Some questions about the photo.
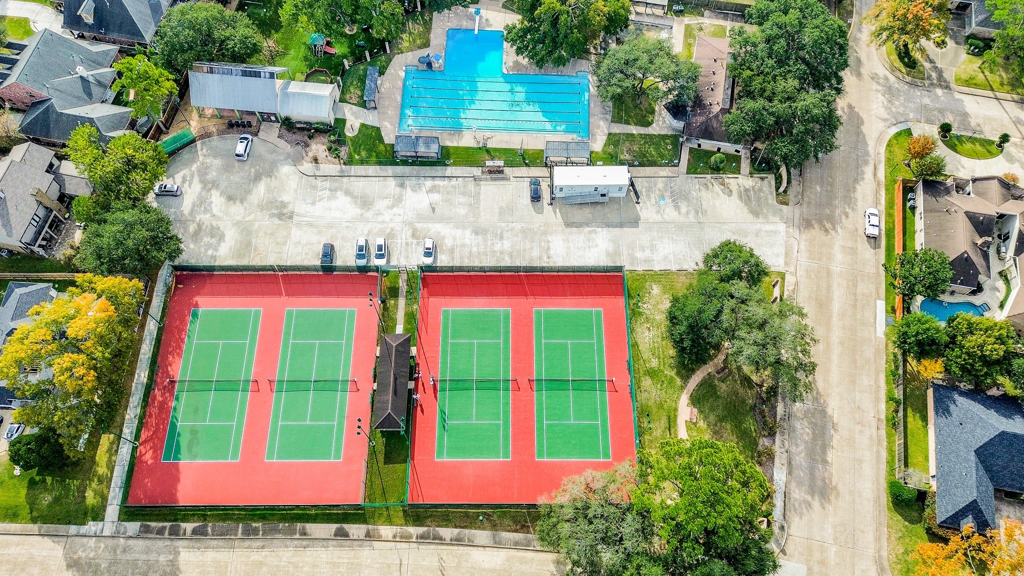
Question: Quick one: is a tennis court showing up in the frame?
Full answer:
Yes, there is a tennis court in the image.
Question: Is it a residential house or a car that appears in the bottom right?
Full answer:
What appears in the bottom right is a residential house.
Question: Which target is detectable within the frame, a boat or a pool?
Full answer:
Of the two, only a pool appears.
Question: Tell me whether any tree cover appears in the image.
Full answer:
Yes, the picture does contain tree cover.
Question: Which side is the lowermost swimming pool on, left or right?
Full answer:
The lowermost swimming pool sits on the right side.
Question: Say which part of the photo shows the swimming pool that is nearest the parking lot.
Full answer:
You can find the swimming pool that is nearest the parking lot in the top area of the picture.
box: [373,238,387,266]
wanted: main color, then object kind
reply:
white car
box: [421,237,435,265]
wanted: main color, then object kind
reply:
white car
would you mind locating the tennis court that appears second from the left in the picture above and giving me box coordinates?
[248,273,378,502]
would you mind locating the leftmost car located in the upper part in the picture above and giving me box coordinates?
[152,183,182,198]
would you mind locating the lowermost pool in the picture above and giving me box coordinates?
[918,296,993,322]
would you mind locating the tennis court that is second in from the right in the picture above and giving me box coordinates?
[409,273,523,501]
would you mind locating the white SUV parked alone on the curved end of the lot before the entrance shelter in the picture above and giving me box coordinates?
[234,136,251,161]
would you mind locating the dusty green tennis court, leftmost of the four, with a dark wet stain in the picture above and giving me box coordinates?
[127,272,277,503]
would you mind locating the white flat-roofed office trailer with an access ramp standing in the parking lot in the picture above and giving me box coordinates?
[553,166,628,206]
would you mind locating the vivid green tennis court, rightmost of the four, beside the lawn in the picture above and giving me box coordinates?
[522,273,638,501]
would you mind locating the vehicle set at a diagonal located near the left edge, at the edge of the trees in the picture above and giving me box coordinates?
[0,417,24,447]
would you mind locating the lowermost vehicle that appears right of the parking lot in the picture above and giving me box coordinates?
[865,208,882,239]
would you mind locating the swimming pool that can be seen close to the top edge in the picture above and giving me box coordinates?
[396,28,591,141]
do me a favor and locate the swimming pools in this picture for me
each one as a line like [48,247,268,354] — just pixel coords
[396,28,591,141]
[918,296,993,322]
